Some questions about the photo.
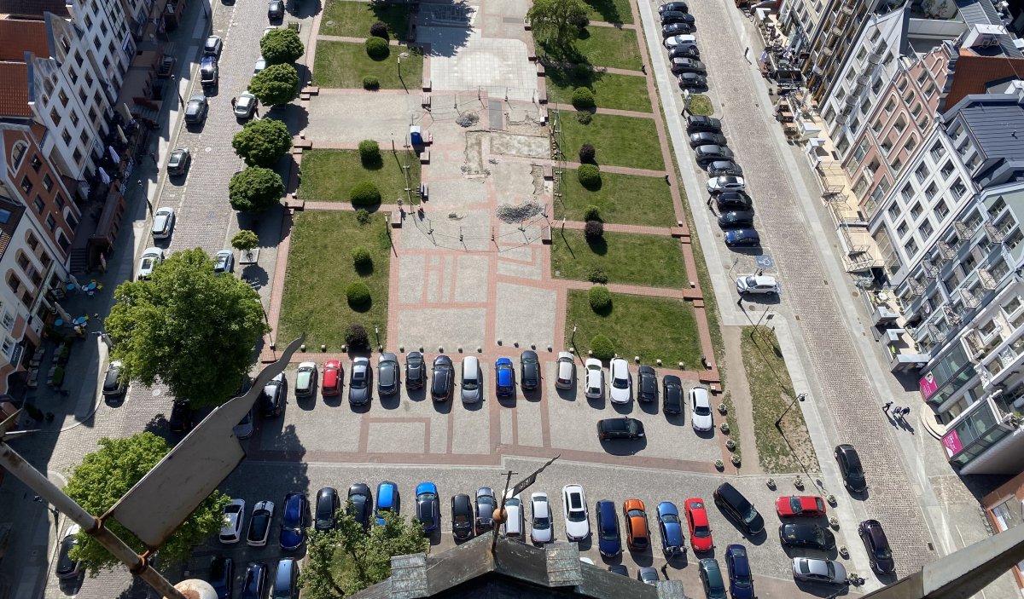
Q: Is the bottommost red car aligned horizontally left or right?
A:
right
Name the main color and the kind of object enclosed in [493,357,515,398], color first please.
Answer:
blue car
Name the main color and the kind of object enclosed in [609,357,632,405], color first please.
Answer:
white car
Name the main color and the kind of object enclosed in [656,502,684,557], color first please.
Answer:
blue car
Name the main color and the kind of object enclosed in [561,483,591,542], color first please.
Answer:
white car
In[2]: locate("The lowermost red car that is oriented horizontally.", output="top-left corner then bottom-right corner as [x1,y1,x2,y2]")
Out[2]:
[774,493,828,519]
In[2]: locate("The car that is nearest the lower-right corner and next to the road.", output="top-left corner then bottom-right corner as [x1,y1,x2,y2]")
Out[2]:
[858,520,896,575]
